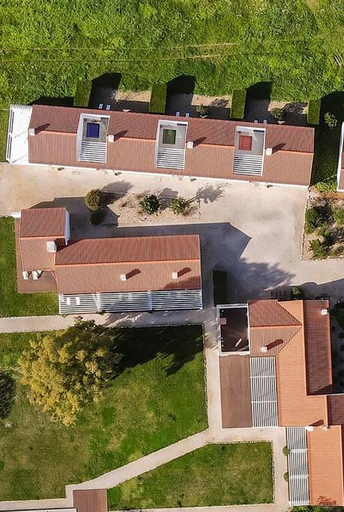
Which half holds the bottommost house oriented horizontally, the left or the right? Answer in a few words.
left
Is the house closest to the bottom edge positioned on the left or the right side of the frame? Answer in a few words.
right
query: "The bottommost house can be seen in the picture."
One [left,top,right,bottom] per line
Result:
[248,299,344,506]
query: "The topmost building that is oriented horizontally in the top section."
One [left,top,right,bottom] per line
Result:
[28,105,315,189]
